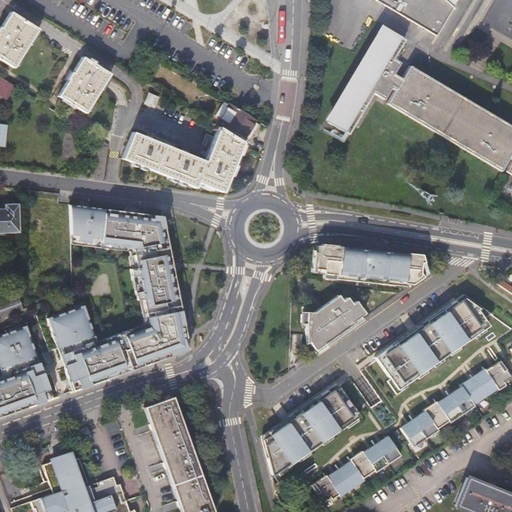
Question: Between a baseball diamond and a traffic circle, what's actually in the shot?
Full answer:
There is a traffic circle in the scene.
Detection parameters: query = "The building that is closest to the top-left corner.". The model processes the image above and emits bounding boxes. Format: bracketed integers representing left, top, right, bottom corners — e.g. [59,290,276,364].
[0,11,41,72]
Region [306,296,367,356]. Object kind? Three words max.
building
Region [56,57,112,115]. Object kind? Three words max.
building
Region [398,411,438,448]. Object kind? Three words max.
house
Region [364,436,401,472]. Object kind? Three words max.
house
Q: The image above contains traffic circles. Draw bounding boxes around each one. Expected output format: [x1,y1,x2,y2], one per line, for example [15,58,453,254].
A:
[228,192,302,264]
